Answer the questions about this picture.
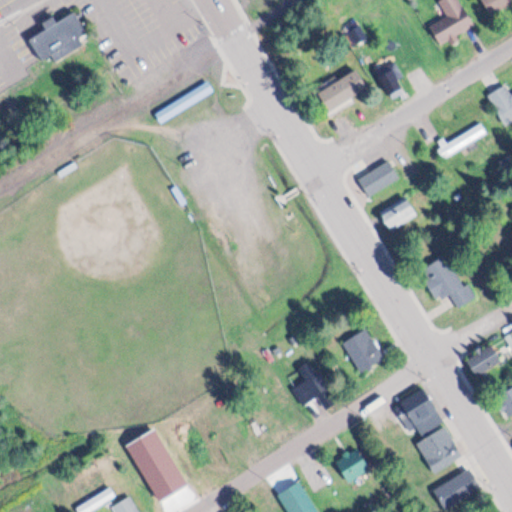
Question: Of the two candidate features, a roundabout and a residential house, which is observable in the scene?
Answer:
residential house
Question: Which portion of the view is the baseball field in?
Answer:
left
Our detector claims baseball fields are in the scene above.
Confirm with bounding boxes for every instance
[0,137,226,437]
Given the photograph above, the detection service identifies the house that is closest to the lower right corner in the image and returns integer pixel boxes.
[434,471,479,510]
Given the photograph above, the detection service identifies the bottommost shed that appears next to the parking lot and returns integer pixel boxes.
[155,80,214,125]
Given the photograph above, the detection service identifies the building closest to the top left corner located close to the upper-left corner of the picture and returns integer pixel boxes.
[28,13,88,62]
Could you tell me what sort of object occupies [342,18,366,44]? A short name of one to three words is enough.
shed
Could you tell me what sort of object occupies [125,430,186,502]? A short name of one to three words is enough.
building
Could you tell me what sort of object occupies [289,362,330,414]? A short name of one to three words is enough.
house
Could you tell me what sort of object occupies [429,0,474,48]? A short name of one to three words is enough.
house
